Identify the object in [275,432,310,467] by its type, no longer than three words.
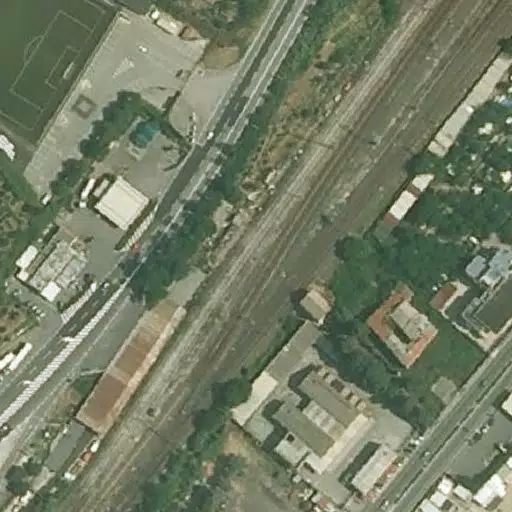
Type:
building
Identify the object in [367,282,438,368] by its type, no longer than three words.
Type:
house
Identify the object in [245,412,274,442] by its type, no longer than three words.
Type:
shed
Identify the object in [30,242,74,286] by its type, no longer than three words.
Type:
building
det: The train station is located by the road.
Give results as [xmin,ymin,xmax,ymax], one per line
[74,271,207,438]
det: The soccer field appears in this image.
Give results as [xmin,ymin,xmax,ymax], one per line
[0,0,120,152]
